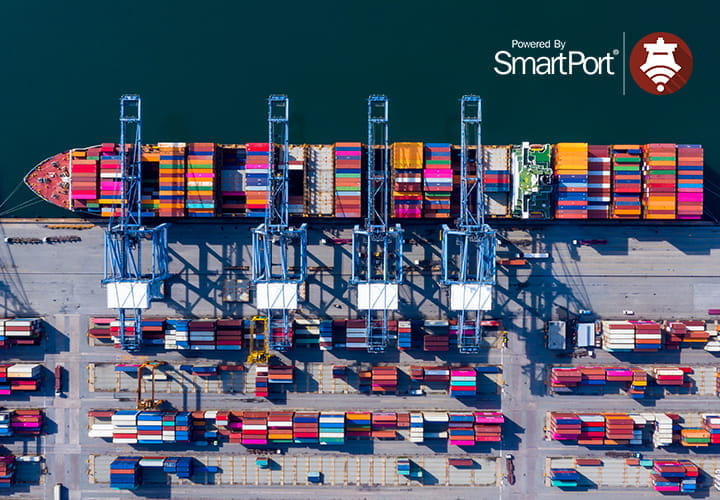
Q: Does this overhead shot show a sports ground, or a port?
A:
port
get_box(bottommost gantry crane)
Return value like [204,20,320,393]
[136,357,168,409]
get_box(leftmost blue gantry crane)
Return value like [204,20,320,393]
[102,93,182,353]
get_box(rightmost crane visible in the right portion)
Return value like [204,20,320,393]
[430,93,497,353]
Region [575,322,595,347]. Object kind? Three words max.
shed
